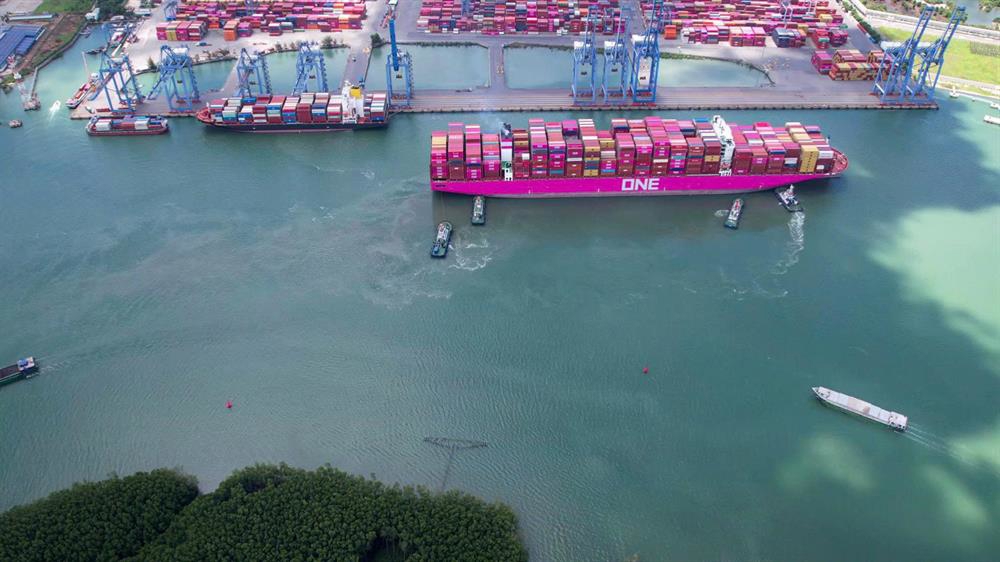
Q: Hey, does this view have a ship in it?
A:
Yes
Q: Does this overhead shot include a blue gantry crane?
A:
Yes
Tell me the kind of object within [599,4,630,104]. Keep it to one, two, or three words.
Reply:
container crane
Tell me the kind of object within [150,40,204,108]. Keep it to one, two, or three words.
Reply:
container crane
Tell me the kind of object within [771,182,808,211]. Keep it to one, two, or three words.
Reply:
boat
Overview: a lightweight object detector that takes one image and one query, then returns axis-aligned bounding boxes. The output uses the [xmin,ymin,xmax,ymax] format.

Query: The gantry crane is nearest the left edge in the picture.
[83,40,145,109]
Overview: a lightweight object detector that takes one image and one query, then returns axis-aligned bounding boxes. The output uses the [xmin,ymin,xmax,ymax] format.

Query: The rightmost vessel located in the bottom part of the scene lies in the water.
[807,384,909,431]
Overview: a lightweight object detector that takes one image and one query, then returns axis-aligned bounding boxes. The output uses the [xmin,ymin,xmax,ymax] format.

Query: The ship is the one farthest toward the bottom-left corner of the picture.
[0,358,41,387]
